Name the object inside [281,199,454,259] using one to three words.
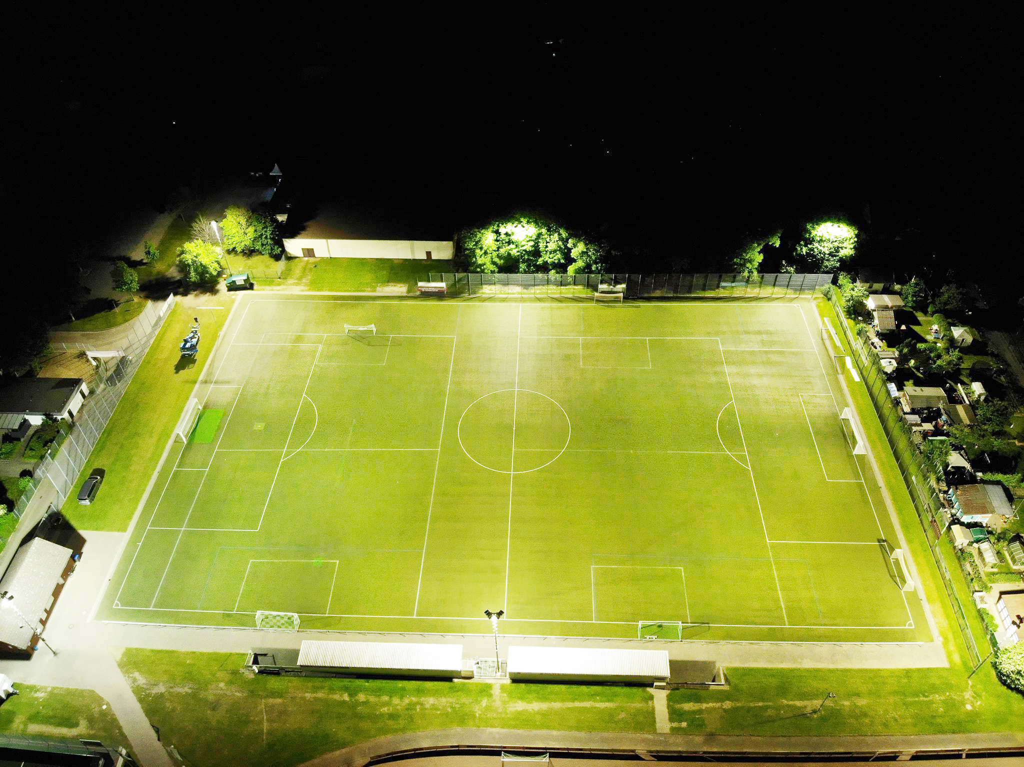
building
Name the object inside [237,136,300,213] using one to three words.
house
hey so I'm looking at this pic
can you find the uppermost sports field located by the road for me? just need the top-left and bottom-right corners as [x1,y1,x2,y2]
[95,294,934,642]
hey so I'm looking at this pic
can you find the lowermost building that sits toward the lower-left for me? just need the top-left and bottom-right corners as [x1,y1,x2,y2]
[0,537,79,658]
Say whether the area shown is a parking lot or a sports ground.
sports ground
